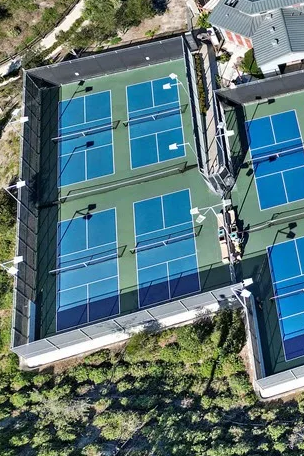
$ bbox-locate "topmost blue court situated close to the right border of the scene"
[245,109,304,210]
